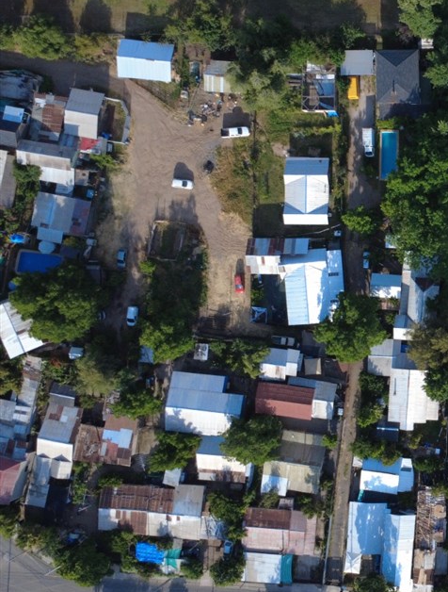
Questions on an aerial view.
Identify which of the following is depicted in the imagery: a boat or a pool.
pool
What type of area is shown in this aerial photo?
residential area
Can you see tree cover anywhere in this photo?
Yes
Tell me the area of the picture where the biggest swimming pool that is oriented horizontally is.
left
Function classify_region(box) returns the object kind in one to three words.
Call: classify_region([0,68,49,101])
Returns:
shed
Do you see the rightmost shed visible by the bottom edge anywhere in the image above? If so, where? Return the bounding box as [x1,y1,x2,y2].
[412,489,448,592]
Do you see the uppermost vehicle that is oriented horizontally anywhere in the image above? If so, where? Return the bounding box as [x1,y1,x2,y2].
[222,126,250,138]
